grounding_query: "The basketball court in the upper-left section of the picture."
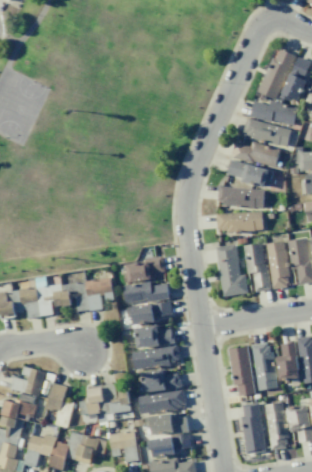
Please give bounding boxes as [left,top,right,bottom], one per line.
[0,67,50,147]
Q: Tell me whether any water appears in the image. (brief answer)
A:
No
